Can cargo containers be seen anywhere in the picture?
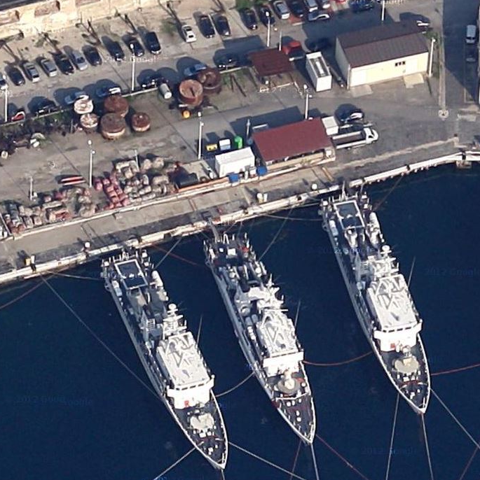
Yes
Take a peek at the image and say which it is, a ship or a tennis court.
ship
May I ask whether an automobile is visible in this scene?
Yes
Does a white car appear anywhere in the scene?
Yes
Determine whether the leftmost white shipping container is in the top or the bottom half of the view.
top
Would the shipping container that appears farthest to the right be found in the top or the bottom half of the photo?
top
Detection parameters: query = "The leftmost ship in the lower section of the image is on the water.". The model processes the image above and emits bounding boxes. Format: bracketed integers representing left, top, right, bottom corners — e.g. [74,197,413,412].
[104,238,226,468]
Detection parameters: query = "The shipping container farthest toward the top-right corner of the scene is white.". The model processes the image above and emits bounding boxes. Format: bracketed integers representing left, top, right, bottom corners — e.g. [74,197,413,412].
[307,53,332,91]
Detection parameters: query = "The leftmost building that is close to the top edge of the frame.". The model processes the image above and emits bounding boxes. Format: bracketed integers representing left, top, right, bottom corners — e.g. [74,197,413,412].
[334,17,430,97]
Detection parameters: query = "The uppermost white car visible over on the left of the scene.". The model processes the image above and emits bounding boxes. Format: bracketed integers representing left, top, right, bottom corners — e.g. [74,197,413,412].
[178,23,199,44]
